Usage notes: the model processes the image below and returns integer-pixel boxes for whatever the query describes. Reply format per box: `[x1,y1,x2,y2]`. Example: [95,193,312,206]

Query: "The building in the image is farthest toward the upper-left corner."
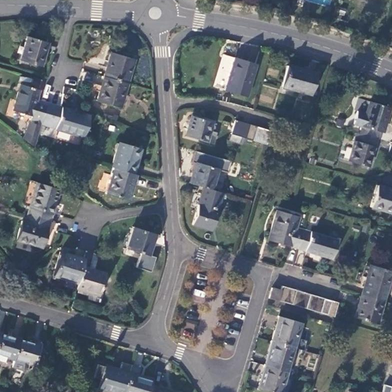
[16,38,52,70]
